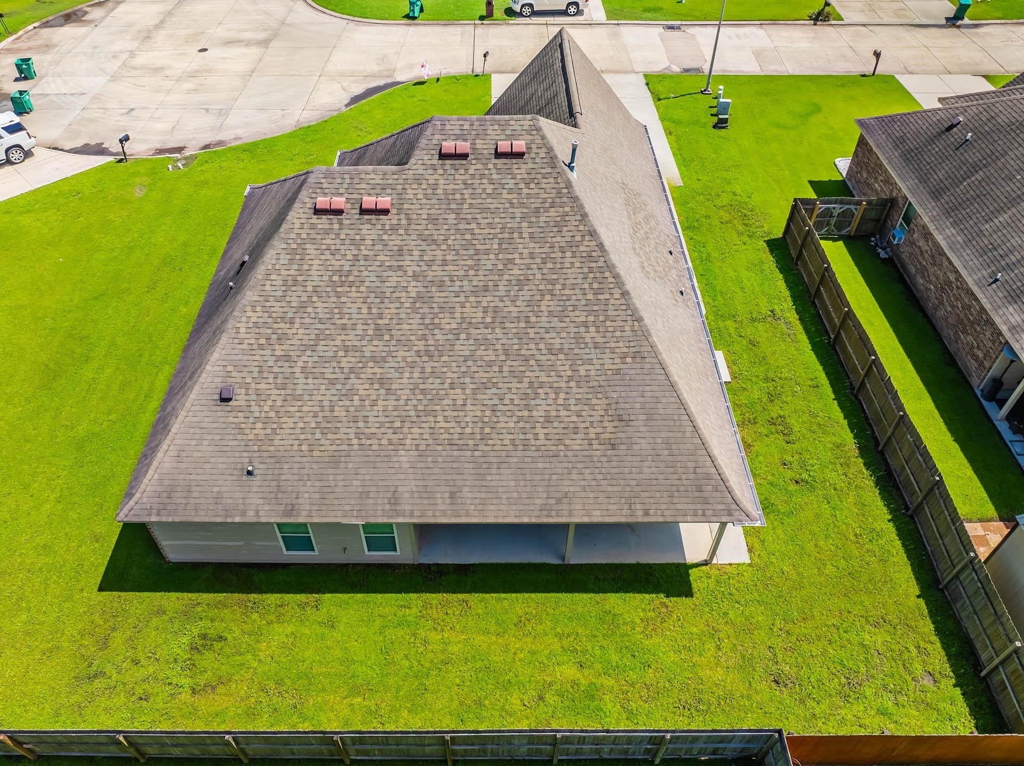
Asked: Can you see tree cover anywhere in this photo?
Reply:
No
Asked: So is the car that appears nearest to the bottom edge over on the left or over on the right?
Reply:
left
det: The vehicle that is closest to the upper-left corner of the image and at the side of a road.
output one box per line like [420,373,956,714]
[0,109,36,164]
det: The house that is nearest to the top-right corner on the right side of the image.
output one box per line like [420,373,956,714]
[845,66,1024,420]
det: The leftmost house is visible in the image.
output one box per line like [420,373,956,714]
[116,26,766,563]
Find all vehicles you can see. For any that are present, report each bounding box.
[0,109,36,164]
[508,0,593,15]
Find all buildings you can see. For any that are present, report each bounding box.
[116,26,766,563]
[987,516,1024,635]
[845,66,1024,420]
